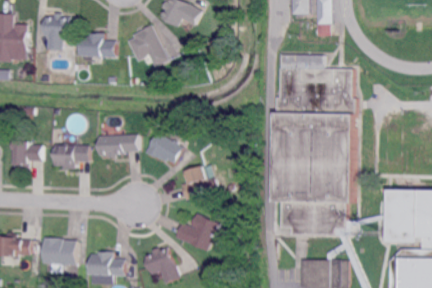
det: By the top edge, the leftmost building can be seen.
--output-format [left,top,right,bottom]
[0,13,28,62]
